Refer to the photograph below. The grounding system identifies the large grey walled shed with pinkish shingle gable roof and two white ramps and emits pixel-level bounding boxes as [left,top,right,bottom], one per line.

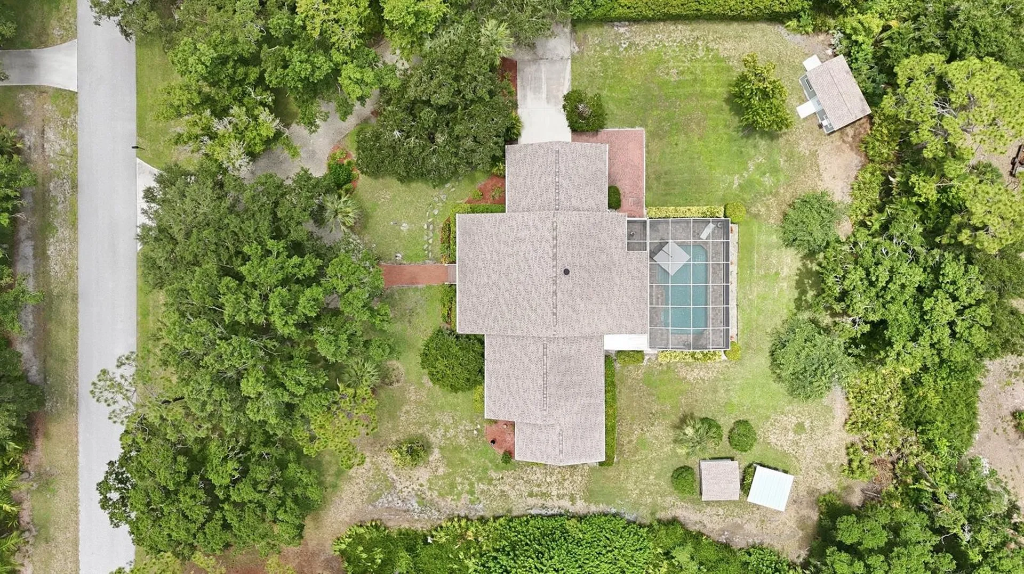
[798,53,872,133]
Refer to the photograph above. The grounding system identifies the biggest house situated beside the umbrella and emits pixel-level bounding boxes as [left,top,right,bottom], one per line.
[456,140,650,464]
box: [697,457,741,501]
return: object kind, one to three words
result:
shed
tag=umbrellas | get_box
[653,241,690,276]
